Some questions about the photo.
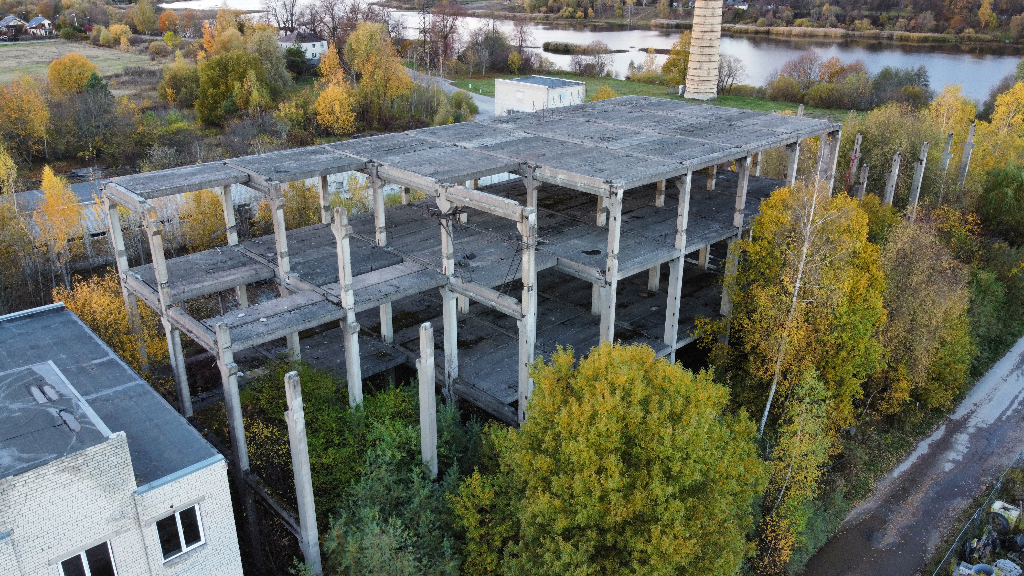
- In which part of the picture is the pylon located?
top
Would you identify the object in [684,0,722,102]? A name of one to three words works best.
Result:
chimney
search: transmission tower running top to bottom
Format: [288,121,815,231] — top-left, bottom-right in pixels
[405,0,437,78]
